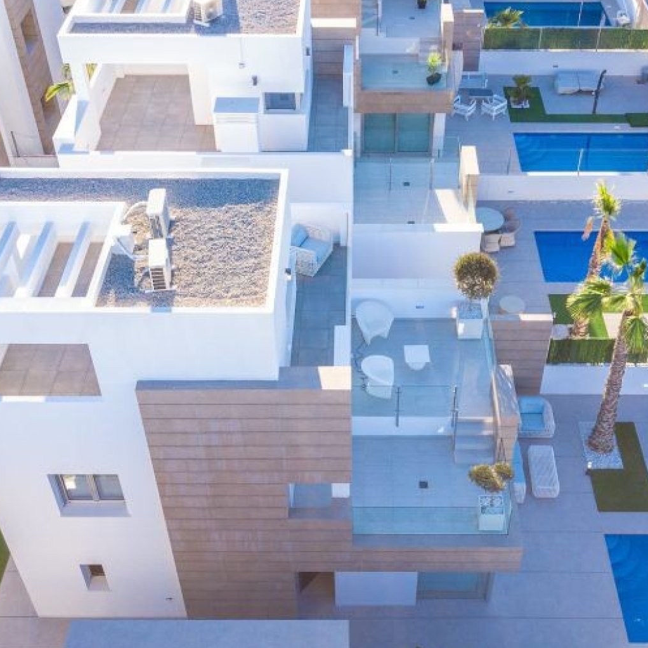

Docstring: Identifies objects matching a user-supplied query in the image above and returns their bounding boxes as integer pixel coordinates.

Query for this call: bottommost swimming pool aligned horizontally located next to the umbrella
[510,131,648,170]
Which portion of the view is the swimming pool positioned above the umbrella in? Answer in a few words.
top right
